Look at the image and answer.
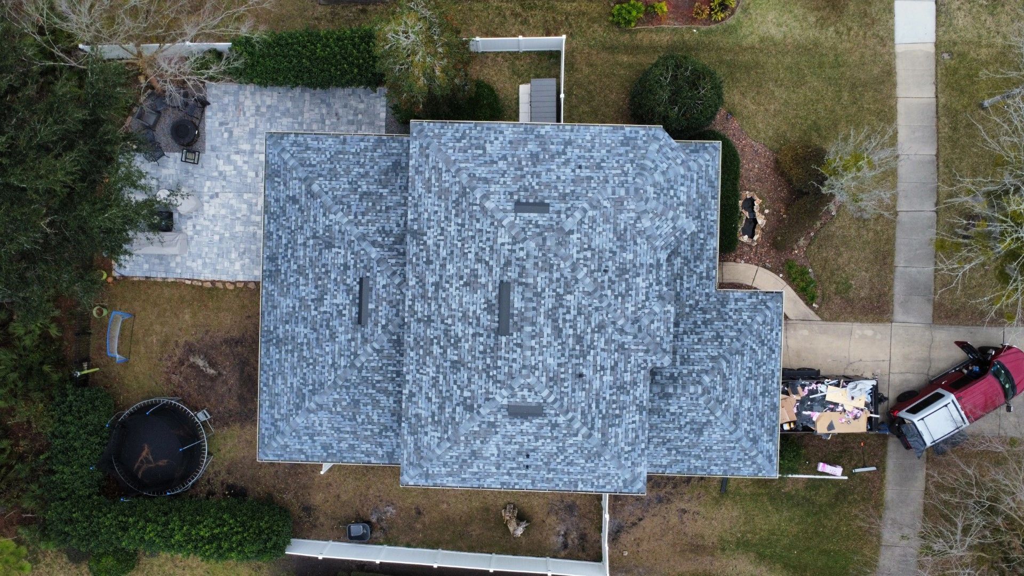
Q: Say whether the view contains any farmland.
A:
No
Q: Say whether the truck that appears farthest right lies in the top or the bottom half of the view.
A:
bottom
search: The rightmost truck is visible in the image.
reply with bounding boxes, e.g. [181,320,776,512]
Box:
[881,339,1024,449]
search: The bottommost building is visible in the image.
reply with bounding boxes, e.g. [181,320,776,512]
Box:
[255,117,787,498]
